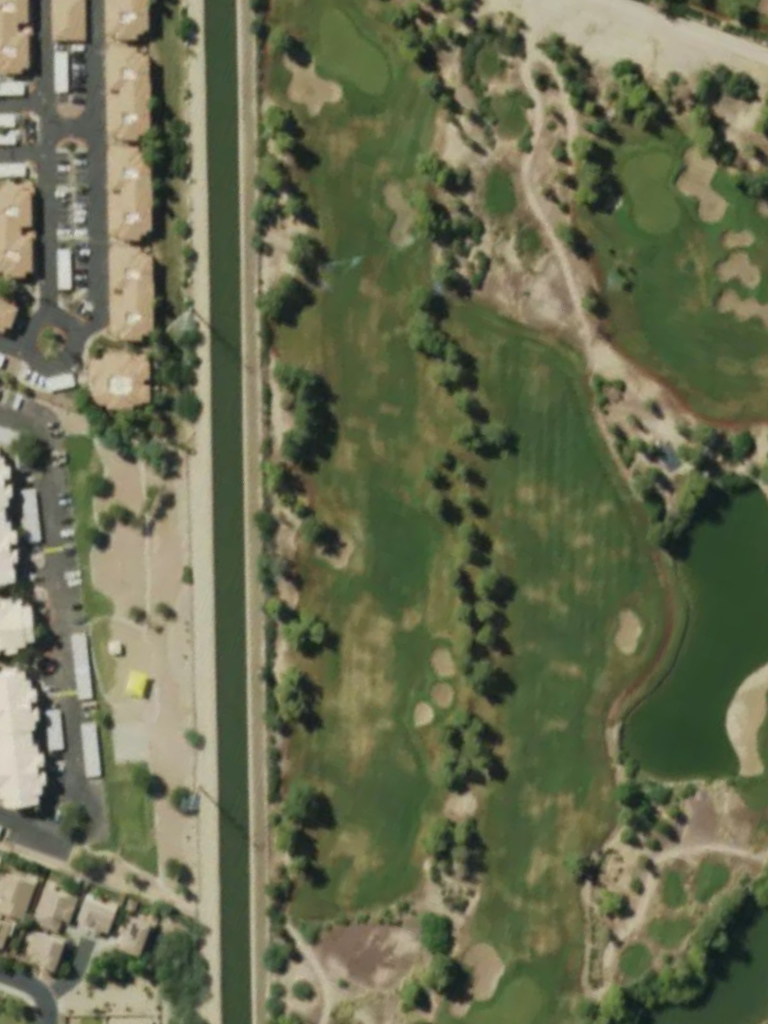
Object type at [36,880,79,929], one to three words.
house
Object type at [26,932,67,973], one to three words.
house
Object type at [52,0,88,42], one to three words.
building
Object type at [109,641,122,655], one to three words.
gazebo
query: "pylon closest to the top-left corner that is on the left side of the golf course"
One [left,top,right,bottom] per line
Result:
[153,308,192,329]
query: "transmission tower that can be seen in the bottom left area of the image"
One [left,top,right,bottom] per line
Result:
[162,785,201,809]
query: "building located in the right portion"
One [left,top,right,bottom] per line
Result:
[661,443,681,472]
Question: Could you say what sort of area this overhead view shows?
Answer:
golf course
